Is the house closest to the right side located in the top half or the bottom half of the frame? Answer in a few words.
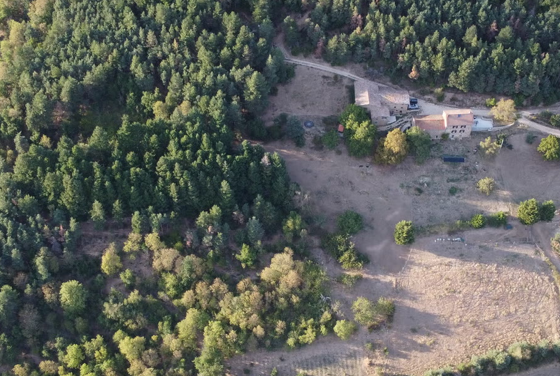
top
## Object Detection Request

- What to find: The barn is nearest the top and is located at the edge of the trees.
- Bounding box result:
[351,79,410,122]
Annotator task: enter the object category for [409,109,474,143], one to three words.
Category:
house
